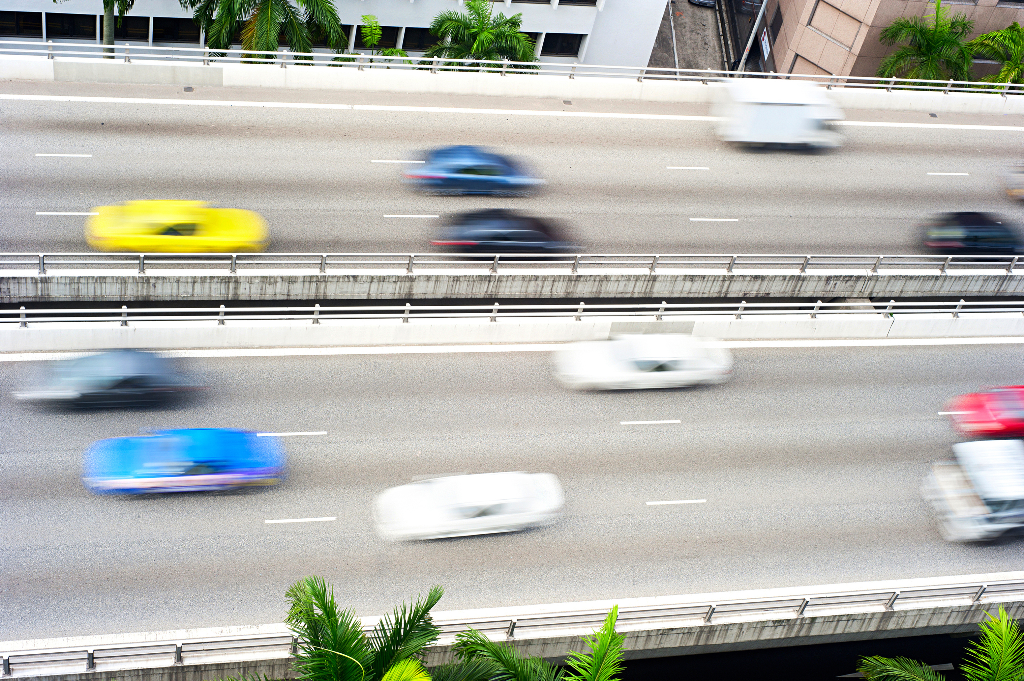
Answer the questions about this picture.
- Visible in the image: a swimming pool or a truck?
truck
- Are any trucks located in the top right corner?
Yes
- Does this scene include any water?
No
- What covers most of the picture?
paved ground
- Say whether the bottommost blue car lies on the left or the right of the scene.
left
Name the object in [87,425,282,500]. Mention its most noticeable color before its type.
blue car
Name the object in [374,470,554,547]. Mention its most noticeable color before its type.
white car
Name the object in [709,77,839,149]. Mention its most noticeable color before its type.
white truck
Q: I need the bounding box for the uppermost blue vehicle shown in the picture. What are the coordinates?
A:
[409,142,531,197]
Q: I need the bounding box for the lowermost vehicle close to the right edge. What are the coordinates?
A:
[918,445,1024,537]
